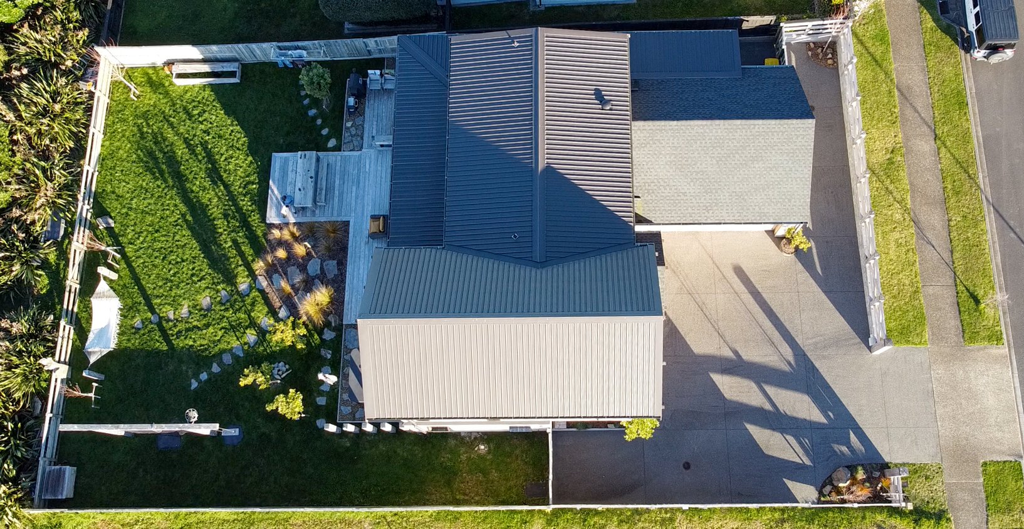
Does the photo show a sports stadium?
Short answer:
No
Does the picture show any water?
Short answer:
No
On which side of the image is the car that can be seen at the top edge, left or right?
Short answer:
right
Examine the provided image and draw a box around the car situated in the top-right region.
[953,0,1020,63]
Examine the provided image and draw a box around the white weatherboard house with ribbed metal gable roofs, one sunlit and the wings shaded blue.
[358,28,666,429]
